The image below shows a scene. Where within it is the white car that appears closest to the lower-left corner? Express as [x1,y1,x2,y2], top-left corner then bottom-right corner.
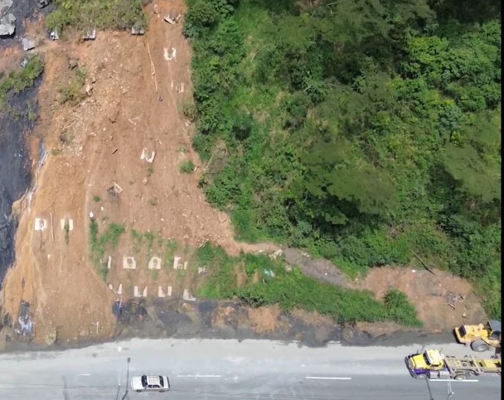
[129,372,170,391]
